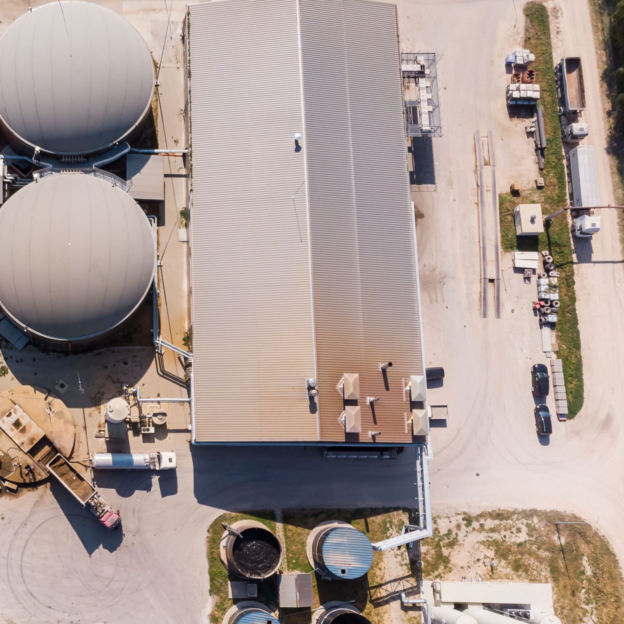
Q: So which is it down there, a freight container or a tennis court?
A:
freight container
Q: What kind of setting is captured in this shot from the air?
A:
industrial area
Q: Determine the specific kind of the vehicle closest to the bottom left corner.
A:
truck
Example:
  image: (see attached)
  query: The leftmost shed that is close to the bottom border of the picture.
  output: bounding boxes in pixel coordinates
[276,573,313,608]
